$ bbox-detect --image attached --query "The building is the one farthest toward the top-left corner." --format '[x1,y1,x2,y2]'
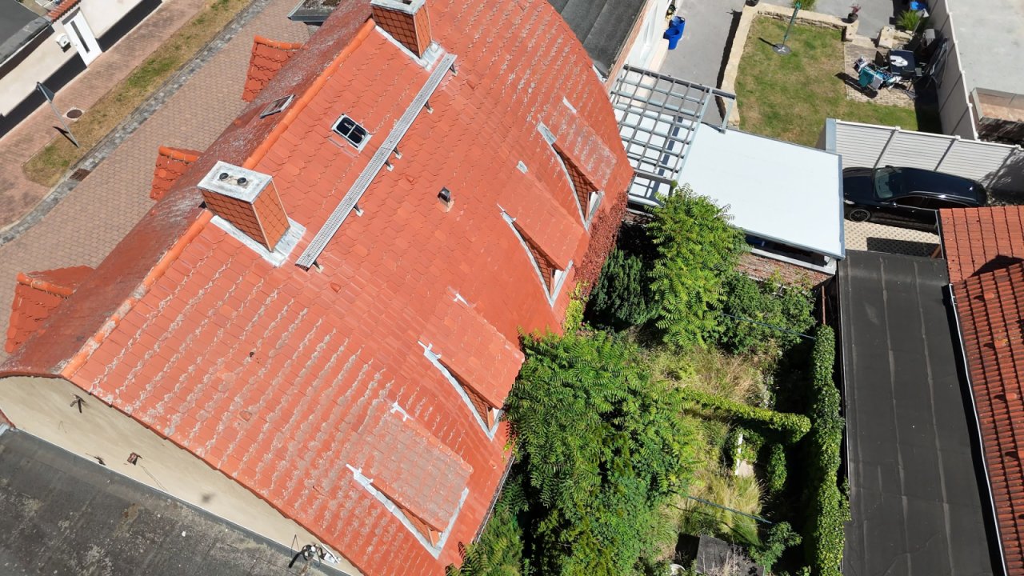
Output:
[0,6,55,71]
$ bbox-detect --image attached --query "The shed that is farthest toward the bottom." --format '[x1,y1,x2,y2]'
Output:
[688,532,756,576]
